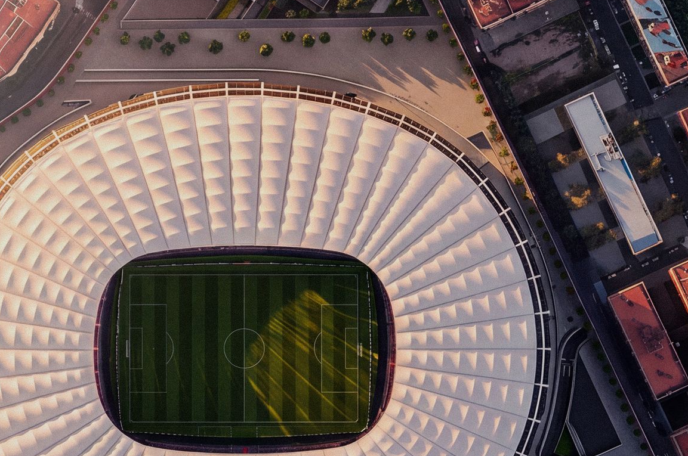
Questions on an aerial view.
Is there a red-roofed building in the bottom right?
Yes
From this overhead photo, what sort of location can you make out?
sports ground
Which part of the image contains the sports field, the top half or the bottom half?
bottom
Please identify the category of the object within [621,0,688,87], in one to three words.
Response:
building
